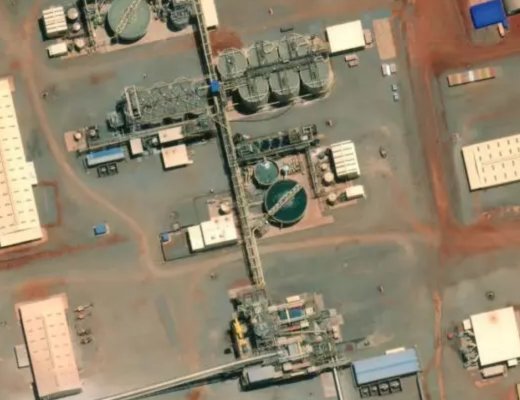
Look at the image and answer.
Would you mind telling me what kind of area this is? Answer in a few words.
industrial area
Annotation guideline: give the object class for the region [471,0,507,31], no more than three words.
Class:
shed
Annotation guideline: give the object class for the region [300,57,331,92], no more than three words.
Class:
storage tank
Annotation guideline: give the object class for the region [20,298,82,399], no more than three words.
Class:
building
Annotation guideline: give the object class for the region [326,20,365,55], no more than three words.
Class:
building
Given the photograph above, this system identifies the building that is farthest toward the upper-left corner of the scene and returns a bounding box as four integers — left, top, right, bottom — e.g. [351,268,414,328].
[43,7,67,38]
